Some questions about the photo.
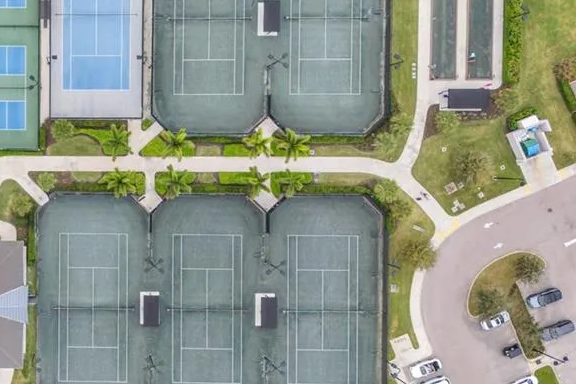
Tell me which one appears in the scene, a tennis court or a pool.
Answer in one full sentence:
Visible in the photo is a tennis court.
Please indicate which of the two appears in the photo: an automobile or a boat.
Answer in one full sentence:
There is an automobile in the scene.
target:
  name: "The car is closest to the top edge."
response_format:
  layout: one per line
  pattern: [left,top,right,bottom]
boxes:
[526,288,563,307]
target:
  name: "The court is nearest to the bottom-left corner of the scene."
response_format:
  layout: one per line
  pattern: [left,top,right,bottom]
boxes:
[37,194,151,384]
